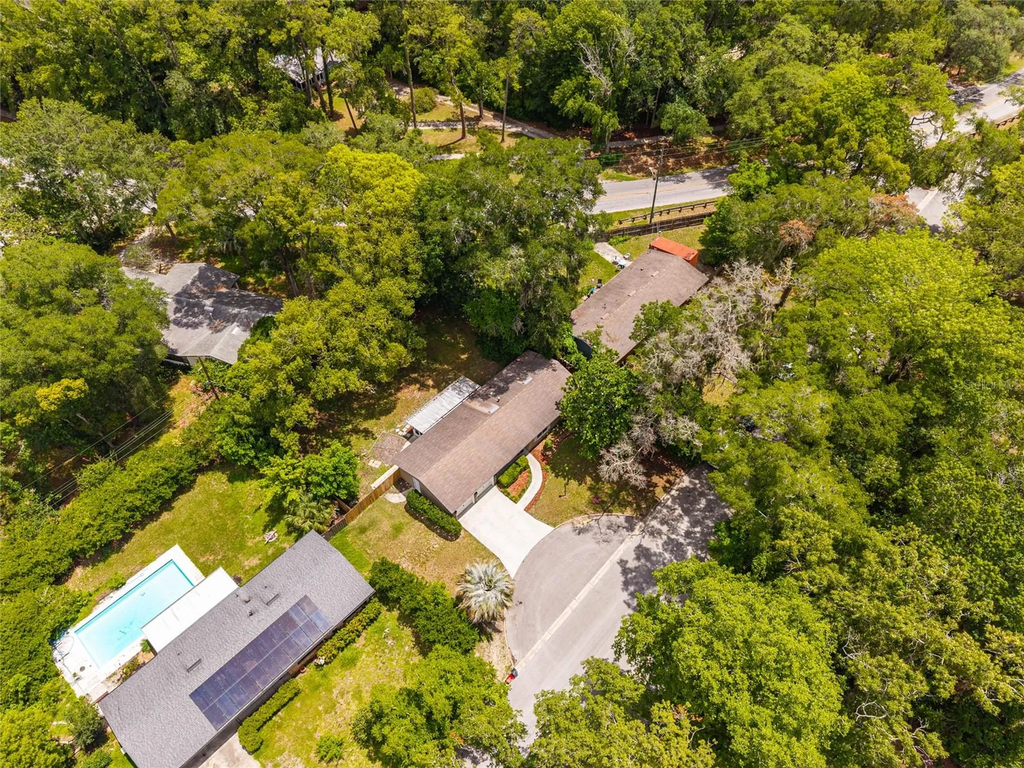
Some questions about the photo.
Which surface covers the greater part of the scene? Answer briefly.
trees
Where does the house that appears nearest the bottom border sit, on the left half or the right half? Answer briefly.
left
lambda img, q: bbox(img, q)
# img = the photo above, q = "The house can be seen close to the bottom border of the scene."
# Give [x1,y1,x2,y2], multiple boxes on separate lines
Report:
[98,532,376,768]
